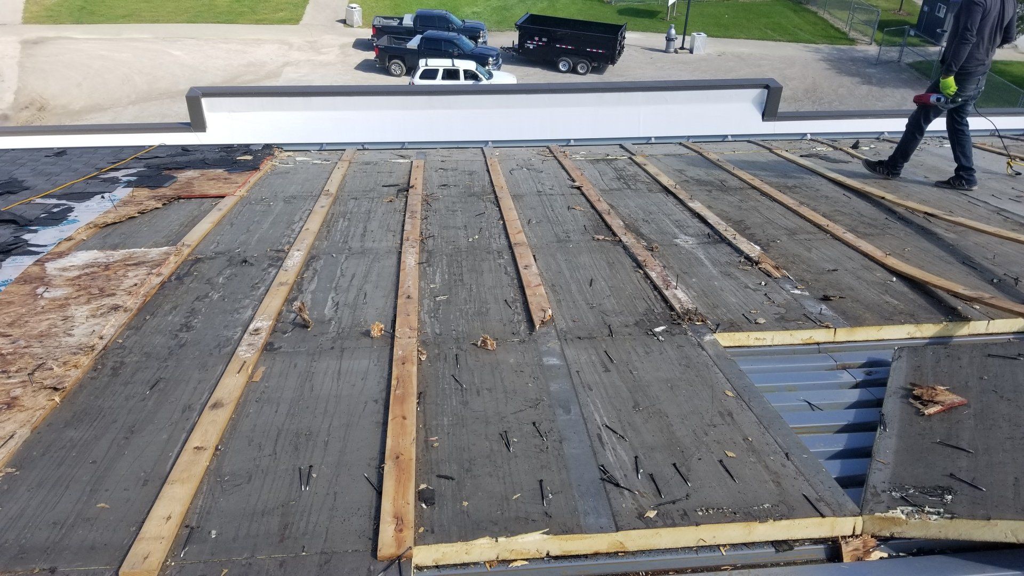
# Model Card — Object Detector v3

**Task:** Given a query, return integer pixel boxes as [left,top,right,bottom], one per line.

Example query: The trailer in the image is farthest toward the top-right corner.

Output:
[505,13,629,75]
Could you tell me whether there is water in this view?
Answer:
No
